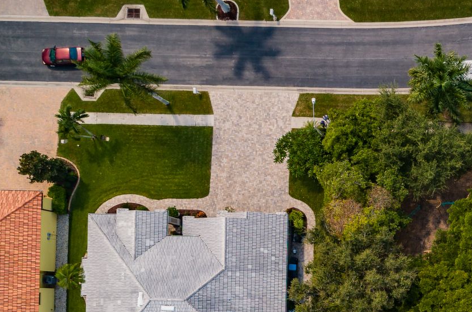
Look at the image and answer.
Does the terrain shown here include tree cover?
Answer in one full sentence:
Yes, some tree cover is visible.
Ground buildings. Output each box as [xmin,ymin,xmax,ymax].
[0,188,58,312]
[85,206,292,312]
